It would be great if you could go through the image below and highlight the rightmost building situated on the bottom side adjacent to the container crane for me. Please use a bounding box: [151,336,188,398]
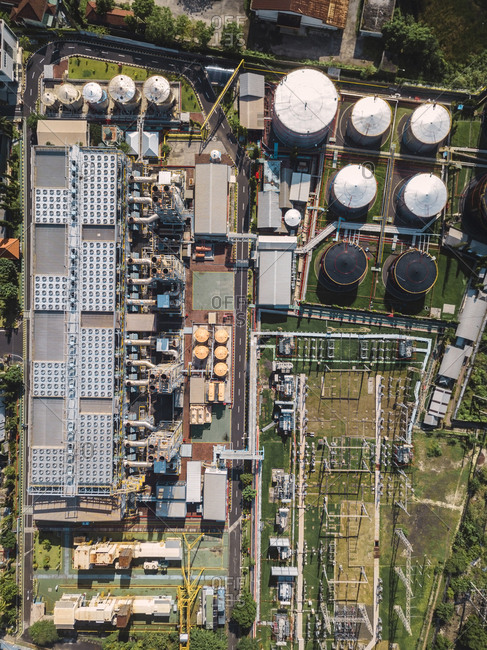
[204,468,227,521]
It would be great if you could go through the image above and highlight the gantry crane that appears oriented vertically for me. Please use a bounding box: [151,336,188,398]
[178,530,204,650]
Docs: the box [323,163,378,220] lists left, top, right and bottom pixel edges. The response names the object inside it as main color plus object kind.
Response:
white storage tank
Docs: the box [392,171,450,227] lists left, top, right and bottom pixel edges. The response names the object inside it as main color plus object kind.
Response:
white storage tank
